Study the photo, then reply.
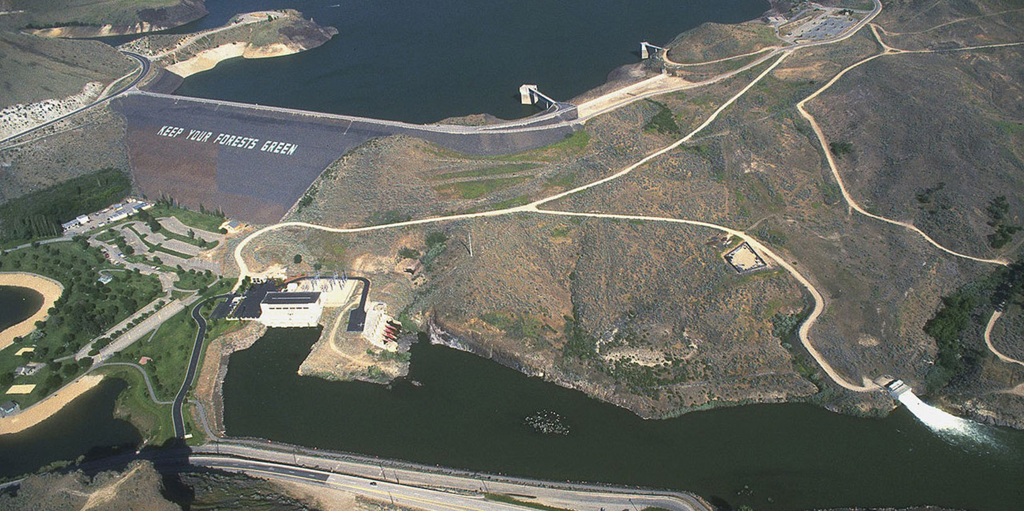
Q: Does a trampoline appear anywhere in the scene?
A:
No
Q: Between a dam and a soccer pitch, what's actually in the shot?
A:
dam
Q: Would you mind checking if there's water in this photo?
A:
Yes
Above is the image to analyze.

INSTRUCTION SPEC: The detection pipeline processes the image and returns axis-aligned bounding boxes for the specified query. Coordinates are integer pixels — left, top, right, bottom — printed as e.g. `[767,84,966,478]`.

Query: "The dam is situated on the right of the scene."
[575,68,675,114]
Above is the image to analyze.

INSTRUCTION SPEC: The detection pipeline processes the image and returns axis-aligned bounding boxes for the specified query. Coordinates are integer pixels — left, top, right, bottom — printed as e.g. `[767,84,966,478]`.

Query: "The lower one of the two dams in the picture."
[113,92,585,223]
